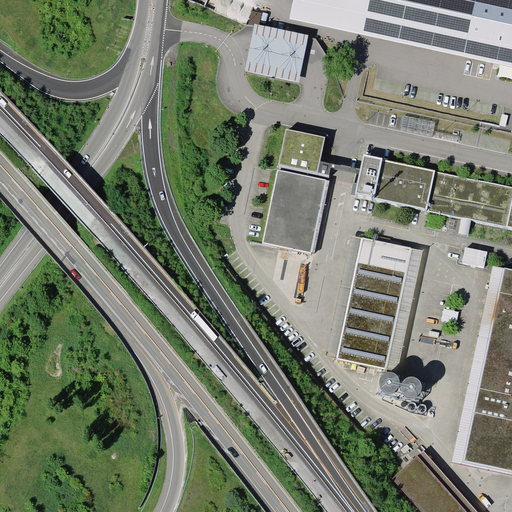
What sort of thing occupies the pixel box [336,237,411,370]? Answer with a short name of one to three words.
building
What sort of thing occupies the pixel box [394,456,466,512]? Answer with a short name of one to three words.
building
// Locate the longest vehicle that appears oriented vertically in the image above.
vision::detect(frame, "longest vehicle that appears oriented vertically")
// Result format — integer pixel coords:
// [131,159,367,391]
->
[294,266,308,304]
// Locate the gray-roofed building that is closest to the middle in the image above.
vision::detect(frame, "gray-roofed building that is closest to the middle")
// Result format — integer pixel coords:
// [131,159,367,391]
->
[264,170,328,254]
